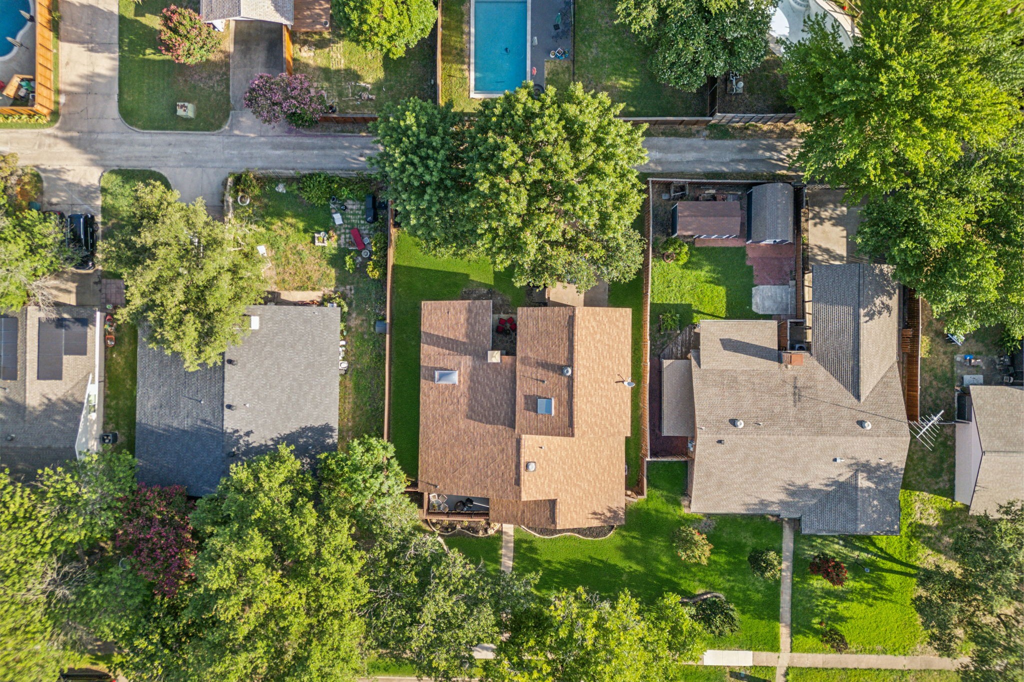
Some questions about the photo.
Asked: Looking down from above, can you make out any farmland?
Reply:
No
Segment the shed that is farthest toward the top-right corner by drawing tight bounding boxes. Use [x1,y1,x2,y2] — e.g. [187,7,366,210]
[745,184,800,246]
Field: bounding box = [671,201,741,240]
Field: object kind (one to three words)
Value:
shed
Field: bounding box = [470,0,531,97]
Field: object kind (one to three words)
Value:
swimming pool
